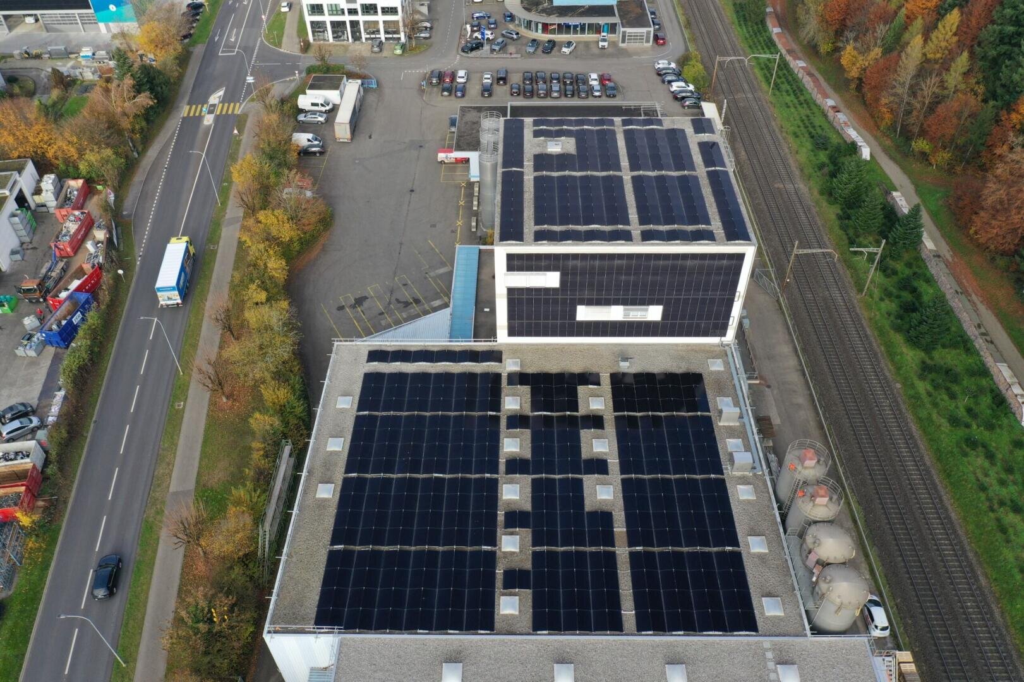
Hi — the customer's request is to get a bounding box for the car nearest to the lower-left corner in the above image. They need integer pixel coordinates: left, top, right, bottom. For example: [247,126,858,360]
[90,554,124,605]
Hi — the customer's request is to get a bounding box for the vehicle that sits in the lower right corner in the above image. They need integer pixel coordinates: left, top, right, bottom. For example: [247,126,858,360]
[862,591,897,647]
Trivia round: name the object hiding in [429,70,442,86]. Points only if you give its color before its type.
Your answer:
gray vehicle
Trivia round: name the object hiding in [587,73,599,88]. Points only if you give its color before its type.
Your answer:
white vehicle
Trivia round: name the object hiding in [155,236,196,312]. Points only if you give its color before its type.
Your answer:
white truck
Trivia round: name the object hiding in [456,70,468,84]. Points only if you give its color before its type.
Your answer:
white vehicle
